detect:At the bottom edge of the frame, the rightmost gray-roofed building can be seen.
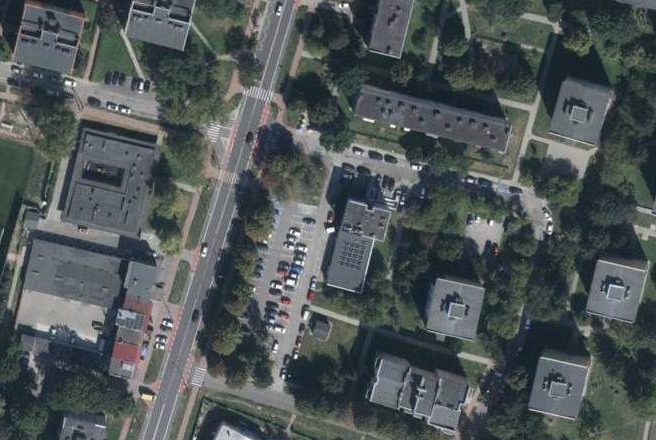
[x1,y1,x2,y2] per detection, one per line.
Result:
[529,349,588,420]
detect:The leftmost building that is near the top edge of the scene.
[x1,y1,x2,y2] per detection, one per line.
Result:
[13,0,87,75]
